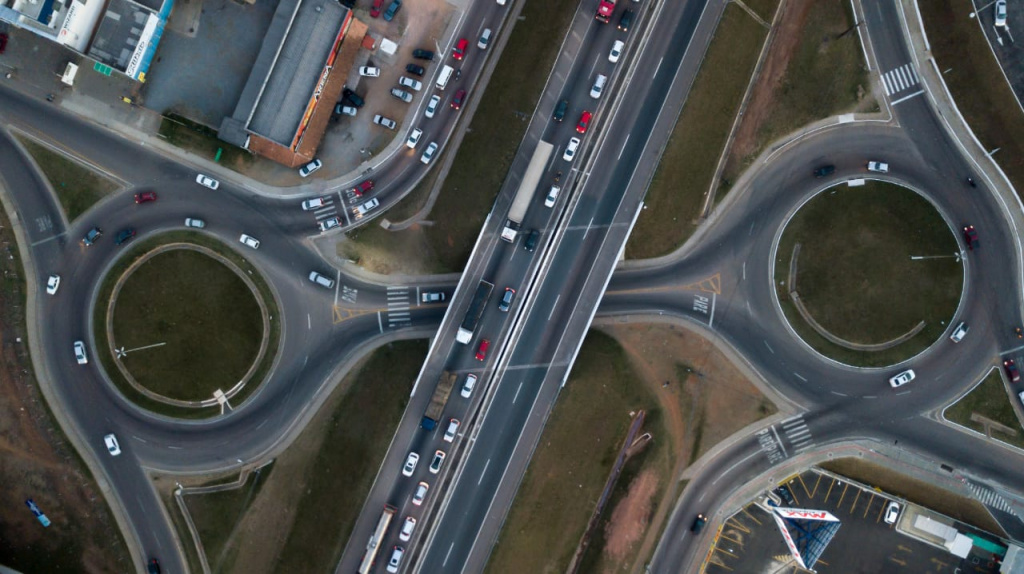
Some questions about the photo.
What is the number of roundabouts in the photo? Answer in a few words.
2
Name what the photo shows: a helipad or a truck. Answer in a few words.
truck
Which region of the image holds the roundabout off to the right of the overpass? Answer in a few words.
right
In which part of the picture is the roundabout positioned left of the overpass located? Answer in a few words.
left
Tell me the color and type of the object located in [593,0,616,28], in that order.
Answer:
red truck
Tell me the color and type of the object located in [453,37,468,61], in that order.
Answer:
red vehicle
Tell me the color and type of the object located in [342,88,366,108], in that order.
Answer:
black vehicle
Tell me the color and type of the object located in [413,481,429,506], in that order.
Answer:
white car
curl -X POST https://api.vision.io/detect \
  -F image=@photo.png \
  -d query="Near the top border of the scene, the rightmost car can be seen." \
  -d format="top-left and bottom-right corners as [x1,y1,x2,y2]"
[994,1,1007,25]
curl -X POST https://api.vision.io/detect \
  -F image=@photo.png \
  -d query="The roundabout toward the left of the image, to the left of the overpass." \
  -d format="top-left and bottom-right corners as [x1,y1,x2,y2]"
[49,186,327,464]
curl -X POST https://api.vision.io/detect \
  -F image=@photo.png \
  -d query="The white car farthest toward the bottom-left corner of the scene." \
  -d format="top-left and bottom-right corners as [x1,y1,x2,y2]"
[105,433,121,455]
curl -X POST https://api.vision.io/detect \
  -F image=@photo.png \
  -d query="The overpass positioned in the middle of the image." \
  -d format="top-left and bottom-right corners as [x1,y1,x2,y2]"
[409,202,645,397]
